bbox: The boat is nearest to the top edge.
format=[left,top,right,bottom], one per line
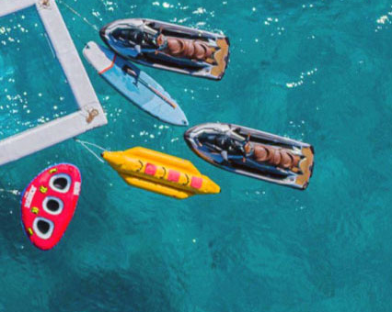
[97,20,226,79]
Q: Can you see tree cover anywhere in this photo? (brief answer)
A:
No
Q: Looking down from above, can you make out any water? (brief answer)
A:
Yes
